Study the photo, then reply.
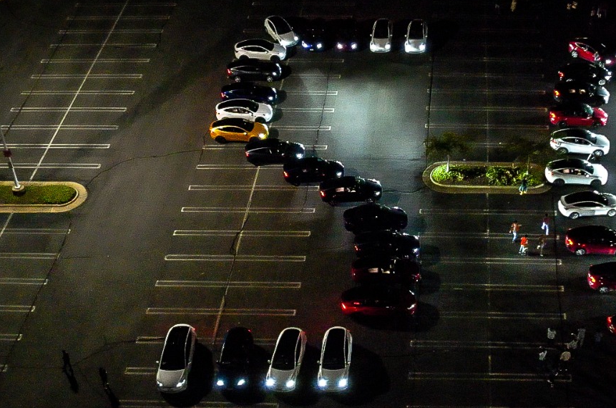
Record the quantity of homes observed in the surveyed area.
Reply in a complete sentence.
Not a single home can be seen.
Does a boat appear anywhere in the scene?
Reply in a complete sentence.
No, no boat is visible in the view.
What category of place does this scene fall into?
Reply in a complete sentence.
What you see here is a parking lot.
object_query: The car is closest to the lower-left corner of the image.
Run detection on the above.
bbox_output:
[157,331,199,396]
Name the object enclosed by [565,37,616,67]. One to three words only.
car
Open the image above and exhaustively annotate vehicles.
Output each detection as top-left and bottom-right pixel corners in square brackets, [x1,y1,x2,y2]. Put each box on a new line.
[207,117,271,144]
[226,61,284,85]
[300,18,325,50]
[543,159,609,189]
[318,175,386,205]
[335,19,360,51]
[216,326,258,391]
[565,37,616,67]
[341,205,410,234]
[556,191,616,220]
[219,83,279,105]
[404,19,429,54]
[585,263,616,294]
[157,331,199,396]
[243,139,309,167]
[556,64,614,87]
[316,326,357,391]
[233,39,290,64]
[368,19,394,53]
[351,231,423,259]
[548,102,609,130]
[214,98,276,124]
[548,129,610,156]
[551,80,612,107]
[262,17,298,48]
[266,326,307,392]
[563,227,616,257]
[281,158,347,186]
